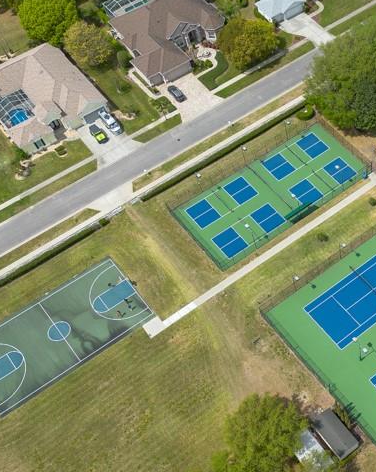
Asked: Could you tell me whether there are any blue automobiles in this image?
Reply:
No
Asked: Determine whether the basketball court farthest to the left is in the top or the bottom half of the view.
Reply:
bottom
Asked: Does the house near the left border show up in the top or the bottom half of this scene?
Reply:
top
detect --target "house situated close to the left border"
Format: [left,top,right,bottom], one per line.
[0,39,110,160]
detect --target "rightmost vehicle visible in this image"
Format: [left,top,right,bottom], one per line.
[168,84,184,101]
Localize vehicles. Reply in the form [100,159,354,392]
[168,84,184,101]
[92,124,109,142]
[101,111,119,132]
